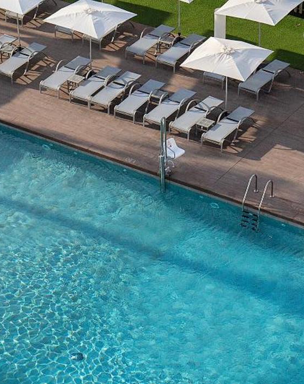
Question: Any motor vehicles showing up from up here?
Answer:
No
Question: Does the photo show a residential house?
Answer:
No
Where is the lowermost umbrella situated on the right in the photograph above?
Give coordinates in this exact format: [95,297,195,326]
[181,35,274,117]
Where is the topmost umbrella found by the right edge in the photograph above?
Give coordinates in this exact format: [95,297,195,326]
[218,0,304,46]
